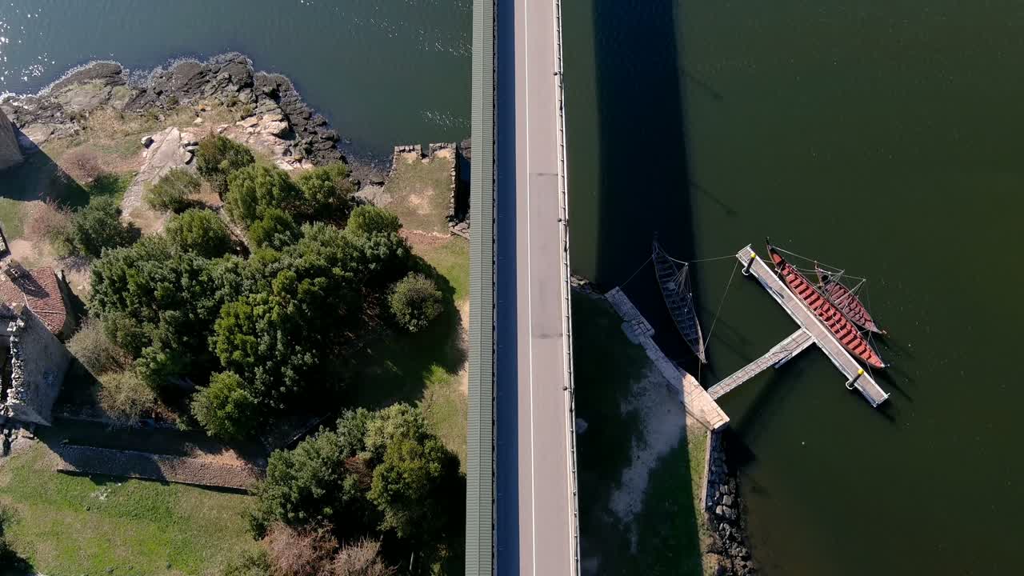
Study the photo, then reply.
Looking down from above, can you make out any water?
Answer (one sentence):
Yes, the picture does contain water.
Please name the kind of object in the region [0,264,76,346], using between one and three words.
building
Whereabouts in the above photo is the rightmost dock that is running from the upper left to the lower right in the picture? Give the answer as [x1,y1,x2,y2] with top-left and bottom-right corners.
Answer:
[734,241,892,408]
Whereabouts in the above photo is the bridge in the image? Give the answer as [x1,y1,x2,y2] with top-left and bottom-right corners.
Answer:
[466,0,580,576]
